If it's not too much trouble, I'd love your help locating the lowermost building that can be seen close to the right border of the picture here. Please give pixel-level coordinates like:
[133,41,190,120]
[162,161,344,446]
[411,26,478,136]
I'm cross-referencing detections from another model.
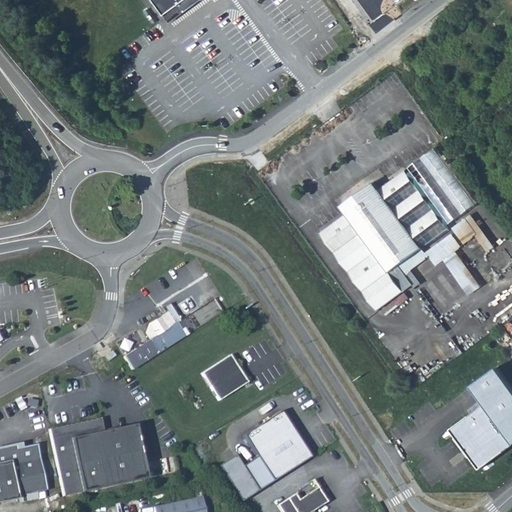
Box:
[442,366,512,470]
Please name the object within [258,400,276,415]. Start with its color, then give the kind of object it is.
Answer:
white vehicle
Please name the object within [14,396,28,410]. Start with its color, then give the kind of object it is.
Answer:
white vehicle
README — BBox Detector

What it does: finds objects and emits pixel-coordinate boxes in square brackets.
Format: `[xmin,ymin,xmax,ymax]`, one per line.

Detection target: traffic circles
[6,118,175,266]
